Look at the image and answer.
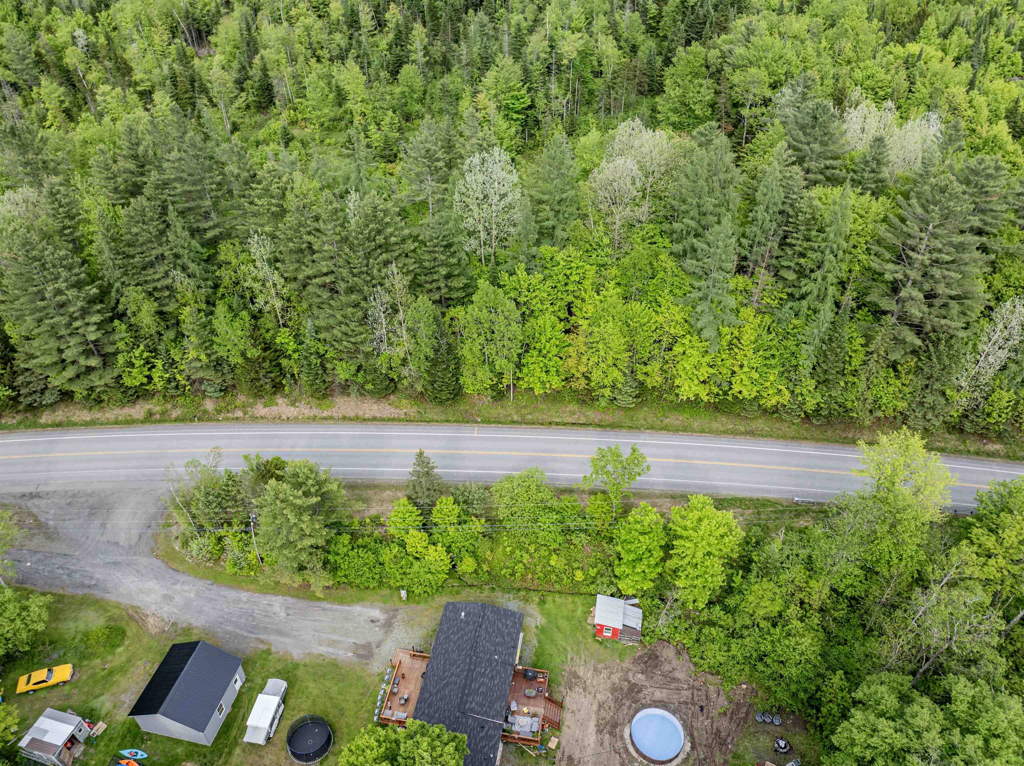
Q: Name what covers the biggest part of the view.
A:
trees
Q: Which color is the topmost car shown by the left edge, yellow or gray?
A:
yellow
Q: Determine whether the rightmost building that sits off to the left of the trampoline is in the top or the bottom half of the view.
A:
bottom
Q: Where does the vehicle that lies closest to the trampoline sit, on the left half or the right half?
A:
left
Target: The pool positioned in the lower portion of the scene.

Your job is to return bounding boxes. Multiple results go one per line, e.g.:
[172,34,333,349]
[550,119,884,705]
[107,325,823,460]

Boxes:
[629,707,685,766]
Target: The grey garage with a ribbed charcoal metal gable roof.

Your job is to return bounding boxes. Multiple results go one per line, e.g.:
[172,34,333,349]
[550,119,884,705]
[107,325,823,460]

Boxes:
[127,641,248,747]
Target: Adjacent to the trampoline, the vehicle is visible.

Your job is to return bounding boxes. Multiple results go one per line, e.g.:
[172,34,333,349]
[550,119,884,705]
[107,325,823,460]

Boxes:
[243,680,290,750]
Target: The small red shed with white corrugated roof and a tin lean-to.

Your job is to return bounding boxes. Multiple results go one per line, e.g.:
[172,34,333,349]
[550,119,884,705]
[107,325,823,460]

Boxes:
[595,595,644,650]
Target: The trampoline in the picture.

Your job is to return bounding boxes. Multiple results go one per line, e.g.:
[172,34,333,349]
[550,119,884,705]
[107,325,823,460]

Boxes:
[285,712,334,766]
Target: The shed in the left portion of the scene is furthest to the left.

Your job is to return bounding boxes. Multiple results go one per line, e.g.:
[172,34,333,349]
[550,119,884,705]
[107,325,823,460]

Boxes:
[21,708,88,766]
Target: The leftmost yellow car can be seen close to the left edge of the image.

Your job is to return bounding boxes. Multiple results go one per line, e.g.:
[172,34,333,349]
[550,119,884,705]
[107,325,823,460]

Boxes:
[15,665,76,695]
